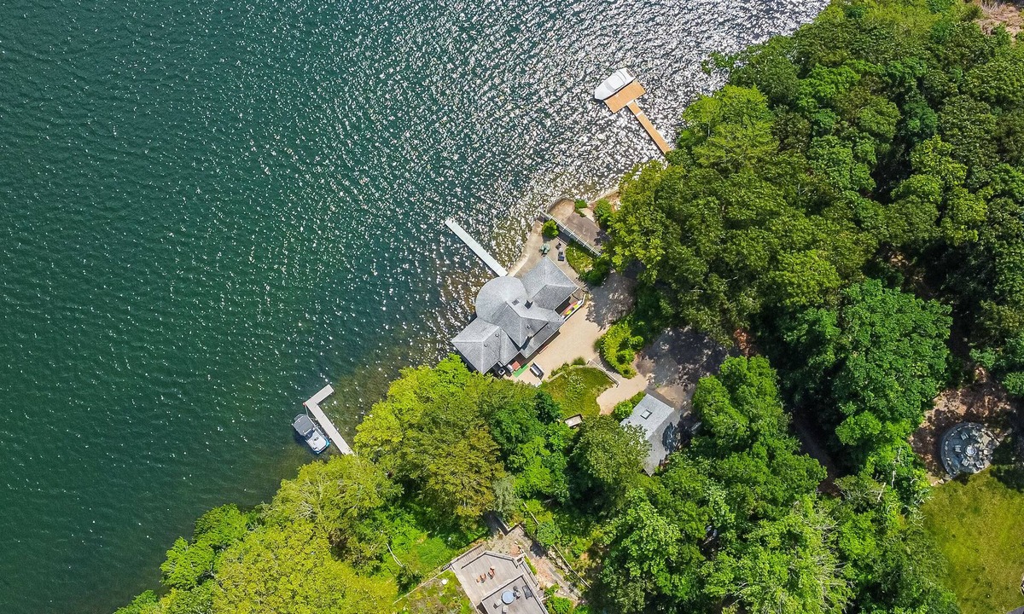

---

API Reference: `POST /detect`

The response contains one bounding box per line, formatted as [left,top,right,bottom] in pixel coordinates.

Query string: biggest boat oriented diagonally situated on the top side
[594,69,634,100]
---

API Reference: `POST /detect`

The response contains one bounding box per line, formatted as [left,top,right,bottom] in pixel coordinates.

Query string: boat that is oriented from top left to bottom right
[290,413,329,453]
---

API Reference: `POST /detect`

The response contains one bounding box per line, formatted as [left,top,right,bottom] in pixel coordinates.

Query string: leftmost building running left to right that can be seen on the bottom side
[390,544,554,614]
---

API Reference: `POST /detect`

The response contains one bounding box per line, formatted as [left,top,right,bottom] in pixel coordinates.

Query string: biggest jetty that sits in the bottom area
[305,385,352,457]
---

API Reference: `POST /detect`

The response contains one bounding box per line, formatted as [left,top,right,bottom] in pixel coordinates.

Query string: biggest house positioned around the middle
[450,256,580,375]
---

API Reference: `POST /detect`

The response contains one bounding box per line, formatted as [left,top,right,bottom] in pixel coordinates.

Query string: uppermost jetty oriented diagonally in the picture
[604,79,671,159]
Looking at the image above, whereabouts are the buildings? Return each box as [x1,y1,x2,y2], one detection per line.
[390,544,554,614]
[450,256,580,375]
[621,393,686,477]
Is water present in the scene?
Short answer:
Yes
